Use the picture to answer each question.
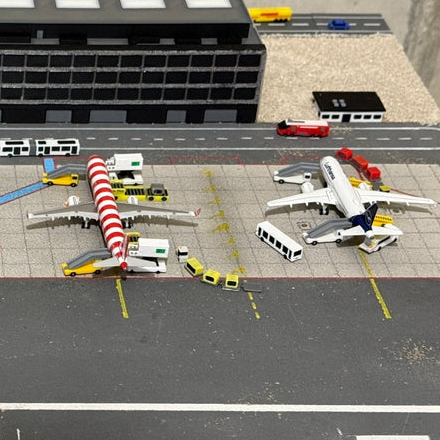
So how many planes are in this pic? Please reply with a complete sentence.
Altogether the scene contains 2 planes.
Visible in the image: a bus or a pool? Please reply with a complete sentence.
Looking from above, you can make out a bus.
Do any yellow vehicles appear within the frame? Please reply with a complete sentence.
Yes, there's a yellow vehicle down there.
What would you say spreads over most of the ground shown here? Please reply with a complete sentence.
The largest share of the image is taken up by paved ground.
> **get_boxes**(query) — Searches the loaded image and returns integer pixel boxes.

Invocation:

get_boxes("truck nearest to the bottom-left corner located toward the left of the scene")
[61,249,107,276]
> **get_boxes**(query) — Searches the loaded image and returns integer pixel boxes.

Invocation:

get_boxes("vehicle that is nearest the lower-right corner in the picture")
[364,234,395,252]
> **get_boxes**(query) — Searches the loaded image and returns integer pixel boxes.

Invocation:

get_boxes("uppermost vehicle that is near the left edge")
[0,138,80,156]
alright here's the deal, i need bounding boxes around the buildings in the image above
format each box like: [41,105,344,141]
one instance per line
[0,0,267,123]
[312,92,387,122]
